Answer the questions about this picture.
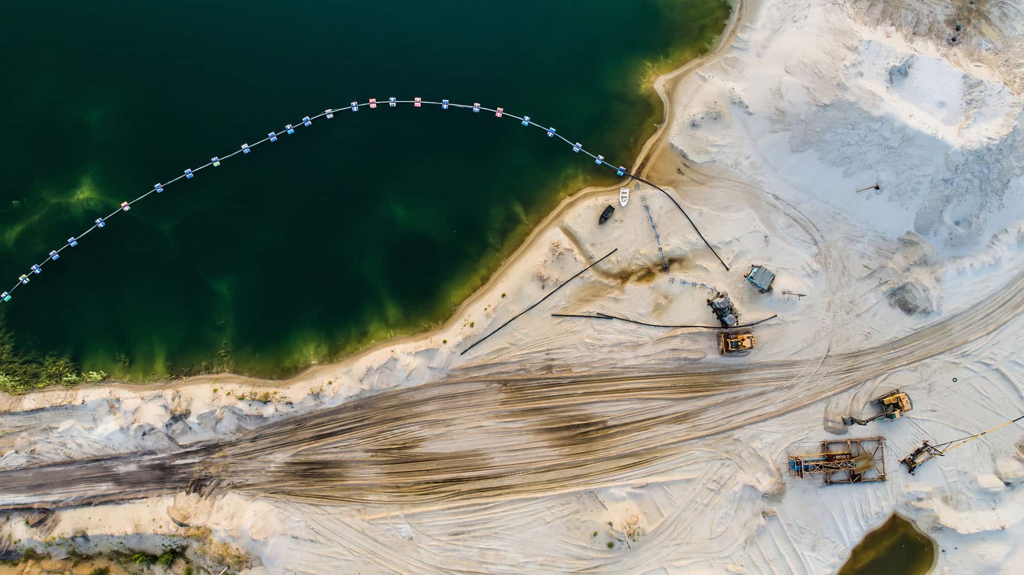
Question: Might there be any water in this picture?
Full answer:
Yes, some water is visible.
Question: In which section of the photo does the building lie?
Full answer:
The building is in the right part of the image.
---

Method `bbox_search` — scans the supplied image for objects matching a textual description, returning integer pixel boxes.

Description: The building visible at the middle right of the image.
[746,267,773,291]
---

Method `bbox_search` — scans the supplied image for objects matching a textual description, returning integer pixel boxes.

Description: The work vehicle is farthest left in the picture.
[714,333,753,356]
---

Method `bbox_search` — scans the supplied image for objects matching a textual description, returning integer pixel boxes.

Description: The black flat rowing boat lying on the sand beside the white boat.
[600,204,616,223]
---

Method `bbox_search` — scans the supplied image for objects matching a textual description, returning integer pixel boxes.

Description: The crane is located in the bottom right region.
[897,416,1024,476]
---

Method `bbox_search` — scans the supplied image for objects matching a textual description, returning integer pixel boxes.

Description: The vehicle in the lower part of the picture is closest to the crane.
[843,390,909,422]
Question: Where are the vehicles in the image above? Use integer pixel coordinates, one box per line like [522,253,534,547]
[714,333,753,356]
[843,390,909,422]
